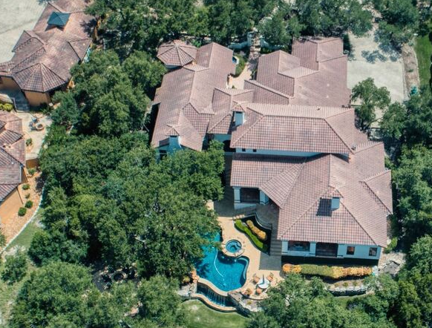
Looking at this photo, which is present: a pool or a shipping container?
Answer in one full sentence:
There is a pool in the scene.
